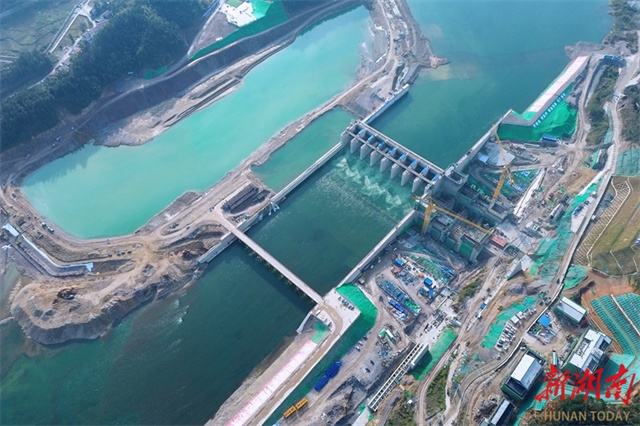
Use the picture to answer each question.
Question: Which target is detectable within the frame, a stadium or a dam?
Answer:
dam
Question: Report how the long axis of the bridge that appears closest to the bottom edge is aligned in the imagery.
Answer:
diagonally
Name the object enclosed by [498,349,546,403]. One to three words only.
building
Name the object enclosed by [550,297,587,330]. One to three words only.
building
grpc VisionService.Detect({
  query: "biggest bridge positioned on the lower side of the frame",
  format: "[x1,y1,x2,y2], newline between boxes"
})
[222,212,326,307]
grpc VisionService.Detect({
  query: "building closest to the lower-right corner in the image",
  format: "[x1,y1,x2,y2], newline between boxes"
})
[561,329,612,379]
